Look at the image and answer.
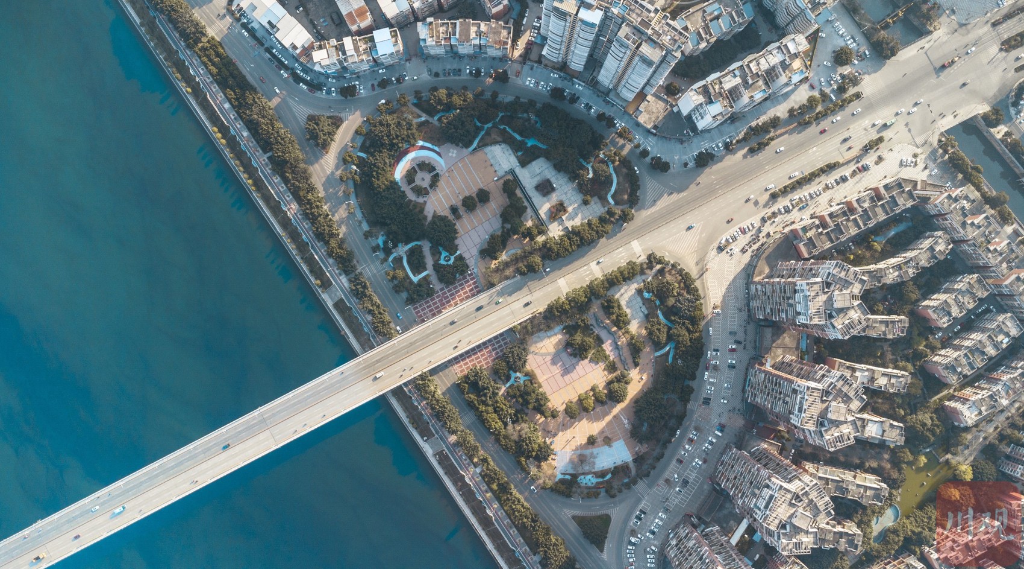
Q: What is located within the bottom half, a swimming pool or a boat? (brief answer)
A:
swimming pool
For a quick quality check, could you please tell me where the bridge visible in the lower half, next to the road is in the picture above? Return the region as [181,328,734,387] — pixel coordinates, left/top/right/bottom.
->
[0,226,645,569]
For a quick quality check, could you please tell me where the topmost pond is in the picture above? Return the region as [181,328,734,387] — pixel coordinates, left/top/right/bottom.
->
[899,451,954,517]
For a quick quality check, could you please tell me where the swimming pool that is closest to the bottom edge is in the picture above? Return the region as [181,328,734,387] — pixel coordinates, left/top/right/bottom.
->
[873,505,900,542]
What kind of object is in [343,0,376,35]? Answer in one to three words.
building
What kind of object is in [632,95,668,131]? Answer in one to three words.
building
